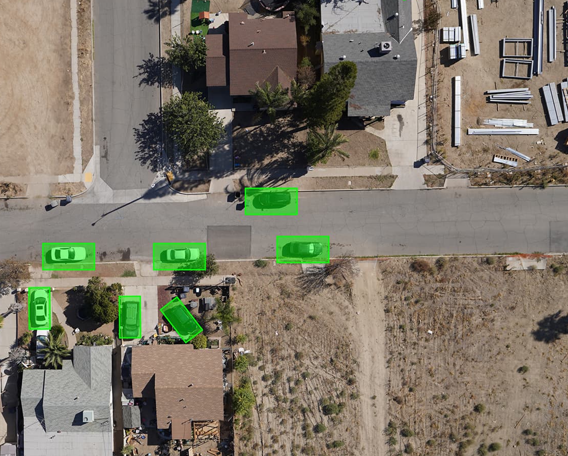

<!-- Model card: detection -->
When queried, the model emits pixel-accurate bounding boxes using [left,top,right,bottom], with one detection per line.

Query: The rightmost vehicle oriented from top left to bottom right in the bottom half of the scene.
[167,302,197,338]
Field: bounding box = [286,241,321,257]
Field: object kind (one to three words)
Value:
car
